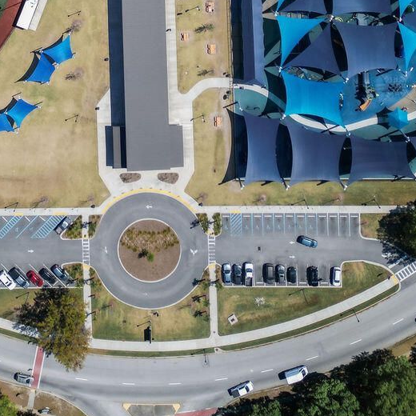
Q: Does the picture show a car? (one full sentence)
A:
Yes, the frame does contain a car.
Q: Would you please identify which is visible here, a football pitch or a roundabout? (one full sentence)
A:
It is a roundabout that can be seen here.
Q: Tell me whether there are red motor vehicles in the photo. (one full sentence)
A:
Yes, a red motor vehicle appears in the view.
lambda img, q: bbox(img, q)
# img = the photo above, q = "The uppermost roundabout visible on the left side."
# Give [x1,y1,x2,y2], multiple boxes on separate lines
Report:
[91,198,207,311]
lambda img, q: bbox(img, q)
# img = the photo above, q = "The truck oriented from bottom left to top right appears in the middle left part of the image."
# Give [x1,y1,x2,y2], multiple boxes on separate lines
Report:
[52,212,75,237]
